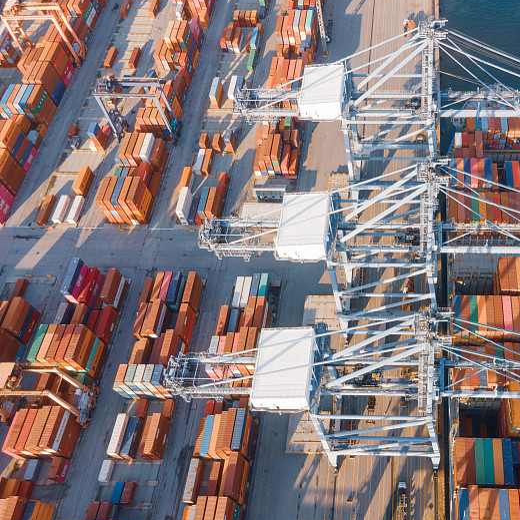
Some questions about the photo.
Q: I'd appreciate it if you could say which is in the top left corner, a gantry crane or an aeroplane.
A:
gantry crane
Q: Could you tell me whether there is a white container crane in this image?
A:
Yes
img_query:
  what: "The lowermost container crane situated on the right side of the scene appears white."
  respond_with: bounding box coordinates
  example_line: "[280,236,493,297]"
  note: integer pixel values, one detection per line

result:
[161,298,520,483]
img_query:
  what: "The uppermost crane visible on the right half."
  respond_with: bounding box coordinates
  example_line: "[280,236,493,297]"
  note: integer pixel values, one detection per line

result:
[230,10,520,216]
